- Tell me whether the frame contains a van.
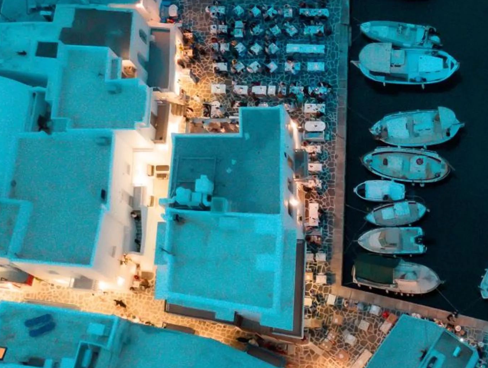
No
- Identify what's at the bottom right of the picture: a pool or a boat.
boat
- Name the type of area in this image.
residential area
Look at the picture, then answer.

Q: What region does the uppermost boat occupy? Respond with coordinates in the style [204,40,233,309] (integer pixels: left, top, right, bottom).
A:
[346,20,438,46]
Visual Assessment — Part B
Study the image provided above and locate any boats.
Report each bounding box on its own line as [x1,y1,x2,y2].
[340,203,429,234]
[346,20,438,46]
[351,257,480,319]
[343,108,482,150]
[344,148,458,187]
[346,44,461,90]
[342,228,441,258]
[341,180,406,203]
